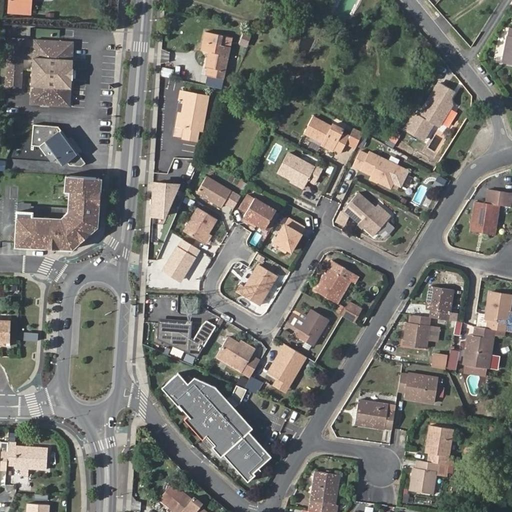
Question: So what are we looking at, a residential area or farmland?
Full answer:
This looks like a residential area.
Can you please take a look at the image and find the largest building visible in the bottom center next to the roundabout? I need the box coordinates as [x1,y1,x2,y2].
[161,372,272,483]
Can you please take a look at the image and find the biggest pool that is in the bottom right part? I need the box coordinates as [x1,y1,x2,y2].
[466,376,482,397]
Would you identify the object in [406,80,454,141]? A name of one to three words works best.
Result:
house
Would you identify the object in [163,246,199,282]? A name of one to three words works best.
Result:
building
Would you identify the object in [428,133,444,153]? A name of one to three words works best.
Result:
swimming pool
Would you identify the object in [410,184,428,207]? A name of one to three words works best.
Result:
swimming pool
